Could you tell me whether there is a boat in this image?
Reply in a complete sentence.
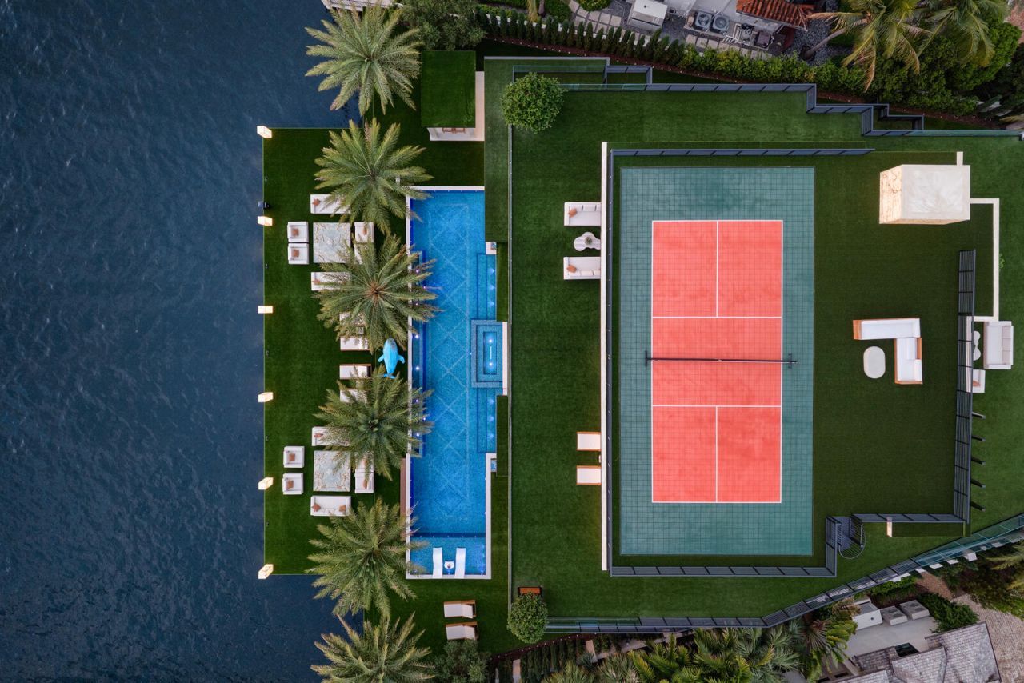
No, I can't see a single boat in this photo.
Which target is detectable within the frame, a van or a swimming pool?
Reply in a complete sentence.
Visible in the photo is a swimming pool.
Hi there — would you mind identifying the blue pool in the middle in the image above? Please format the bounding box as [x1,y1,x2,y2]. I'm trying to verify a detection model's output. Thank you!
[406,186,508,579]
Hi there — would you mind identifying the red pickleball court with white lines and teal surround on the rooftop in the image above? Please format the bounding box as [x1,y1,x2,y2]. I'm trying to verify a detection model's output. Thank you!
[619,166,815,556]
